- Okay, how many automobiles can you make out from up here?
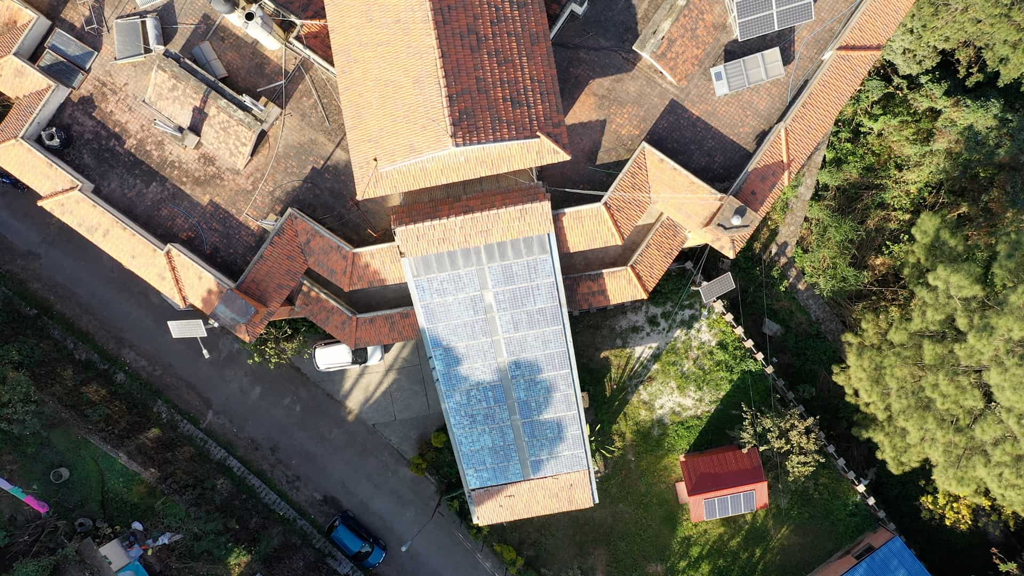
2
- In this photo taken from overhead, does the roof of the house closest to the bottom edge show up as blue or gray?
blue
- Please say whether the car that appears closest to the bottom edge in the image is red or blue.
blue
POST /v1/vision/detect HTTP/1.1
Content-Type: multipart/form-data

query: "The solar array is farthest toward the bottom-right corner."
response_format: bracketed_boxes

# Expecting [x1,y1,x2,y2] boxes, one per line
[704,490,756,520]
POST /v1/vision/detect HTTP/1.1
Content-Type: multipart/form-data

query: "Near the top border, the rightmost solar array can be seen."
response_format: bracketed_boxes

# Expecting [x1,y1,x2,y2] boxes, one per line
[726,0,815,54]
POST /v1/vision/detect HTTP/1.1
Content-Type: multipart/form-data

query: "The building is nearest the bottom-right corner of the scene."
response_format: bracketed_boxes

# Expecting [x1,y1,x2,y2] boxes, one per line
[803,521,931,576]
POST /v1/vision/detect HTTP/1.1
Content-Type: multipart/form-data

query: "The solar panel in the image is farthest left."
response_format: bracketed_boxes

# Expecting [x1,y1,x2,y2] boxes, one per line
[167,320,207,338]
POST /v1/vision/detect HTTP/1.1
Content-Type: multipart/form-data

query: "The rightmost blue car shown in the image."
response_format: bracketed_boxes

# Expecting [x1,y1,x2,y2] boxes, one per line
[326,510,389,572]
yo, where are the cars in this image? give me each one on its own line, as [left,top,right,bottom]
[326,510,389,572]
[312,342,383,374]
